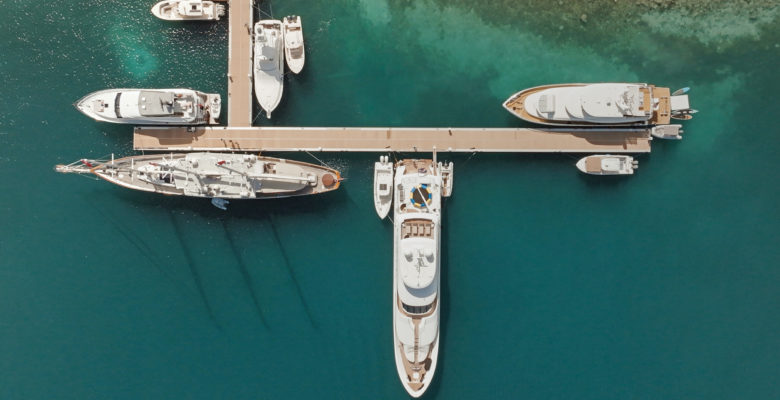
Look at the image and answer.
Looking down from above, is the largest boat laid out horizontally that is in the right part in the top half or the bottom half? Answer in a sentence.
The largest boat laid out horizontally that is in the right part sits in the top half of the picture.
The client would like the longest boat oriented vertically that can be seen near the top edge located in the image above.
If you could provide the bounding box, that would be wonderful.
[254,19,284,119]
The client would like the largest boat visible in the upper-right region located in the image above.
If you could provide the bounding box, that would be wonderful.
[502,84,672,127]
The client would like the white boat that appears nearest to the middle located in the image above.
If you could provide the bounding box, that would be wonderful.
[375,156,393,219]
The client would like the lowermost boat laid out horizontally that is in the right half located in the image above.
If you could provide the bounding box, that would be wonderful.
[577,155,638,174]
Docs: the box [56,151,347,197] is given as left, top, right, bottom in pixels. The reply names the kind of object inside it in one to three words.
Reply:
vessel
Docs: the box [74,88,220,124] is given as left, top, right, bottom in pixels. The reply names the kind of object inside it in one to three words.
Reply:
boat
